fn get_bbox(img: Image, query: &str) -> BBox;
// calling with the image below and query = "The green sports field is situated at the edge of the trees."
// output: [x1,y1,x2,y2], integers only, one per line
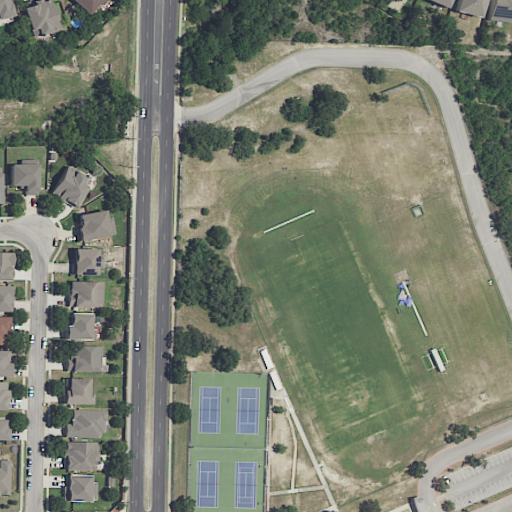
[233,182,411,454]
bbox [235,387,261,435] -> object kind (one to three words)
tennis court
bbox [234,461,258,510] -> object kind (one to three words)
tennis court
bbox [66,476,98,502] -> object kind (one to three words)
house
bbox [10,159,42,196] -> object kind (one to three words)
house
